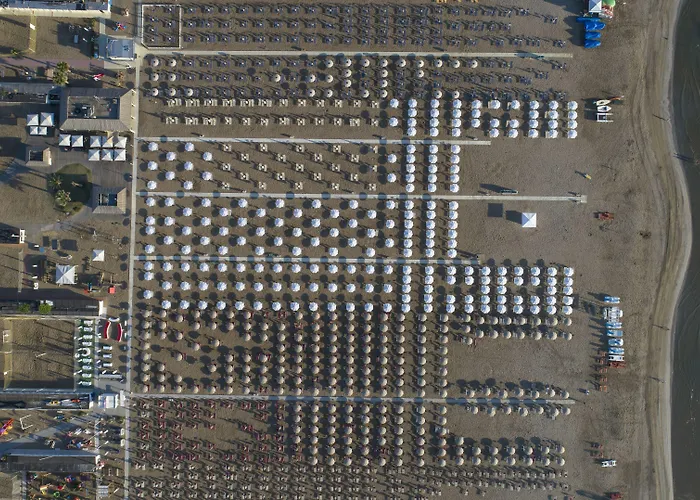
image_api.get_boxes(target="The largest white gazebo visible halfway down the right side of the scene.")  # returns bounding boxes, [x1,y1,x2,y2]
[519,212,537,226]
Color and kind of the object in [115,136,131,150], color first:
white gazebo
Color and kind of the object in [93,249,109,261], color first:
white gazebo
